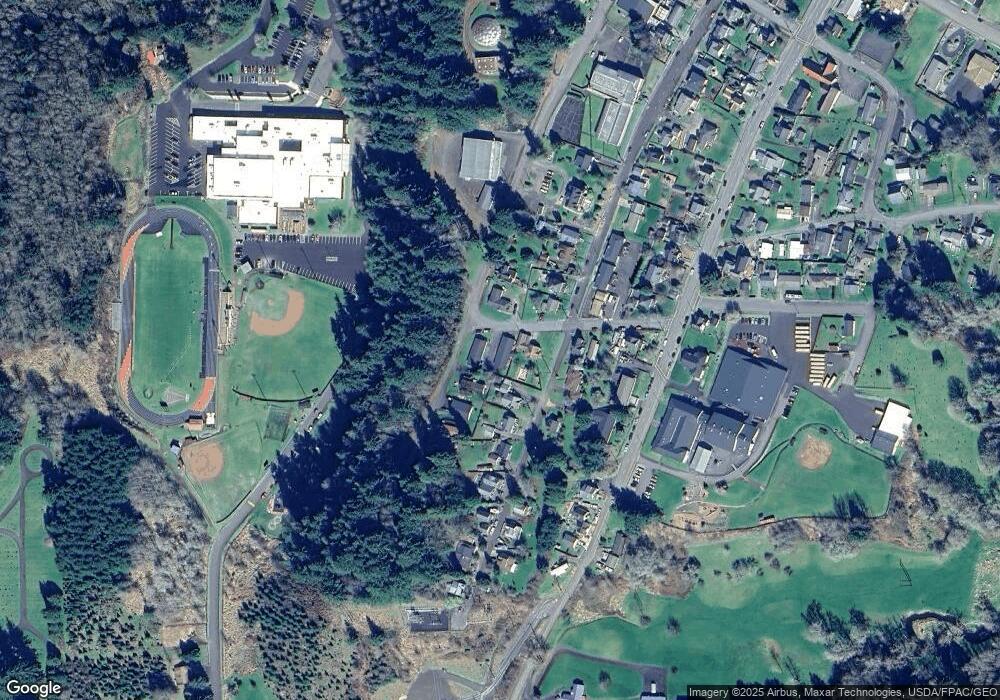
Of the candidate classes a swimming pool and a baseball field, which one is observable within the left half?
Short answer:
baseball field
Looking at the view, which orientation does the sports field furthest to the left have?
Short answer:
up and down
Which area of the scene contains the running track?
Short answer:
left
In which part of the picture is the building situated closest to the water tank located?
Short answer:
top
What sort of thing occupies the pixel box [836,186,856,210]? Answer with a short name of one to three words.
house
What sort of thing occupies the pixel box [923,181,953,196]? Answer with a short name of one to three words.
house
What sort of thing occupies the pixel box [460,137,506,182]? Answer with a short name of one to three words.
building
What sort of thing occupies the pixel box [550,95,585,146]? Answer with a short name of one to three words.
sports court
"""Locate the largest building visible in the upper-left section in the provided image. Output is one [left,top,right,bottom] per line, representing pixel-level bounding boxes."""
[191,115,354,229]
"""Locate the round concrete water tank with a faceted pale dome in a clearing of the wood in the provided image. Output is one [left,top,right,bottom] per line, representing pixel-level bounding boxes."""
[472,16,500,46]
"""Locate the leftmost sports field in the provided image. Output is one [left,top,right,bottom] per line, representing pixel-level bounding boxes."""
[132,219,205,415]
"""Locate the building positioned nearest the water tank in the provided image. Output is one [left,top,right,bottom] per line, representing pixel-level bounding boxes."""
[475,57,501,76]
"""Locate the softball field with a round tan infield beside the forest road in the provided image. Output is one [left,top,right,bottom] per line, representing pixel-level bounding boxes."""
[183,412,262,523]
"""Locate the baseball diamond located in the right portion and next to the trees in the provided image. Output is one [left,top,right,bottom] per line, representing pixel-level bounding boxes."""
[726,424,890,531]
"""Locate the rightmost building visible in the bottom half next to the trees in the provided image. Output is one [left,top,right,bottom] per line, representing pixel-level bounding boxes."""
[871,400,914,456]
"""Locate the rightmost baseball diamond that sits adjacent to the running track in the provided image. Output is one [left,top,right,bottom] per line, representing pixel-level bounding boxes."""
[231,266,346,401]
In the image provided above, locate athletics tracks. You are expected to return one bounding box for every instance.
[116,204,223,428]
